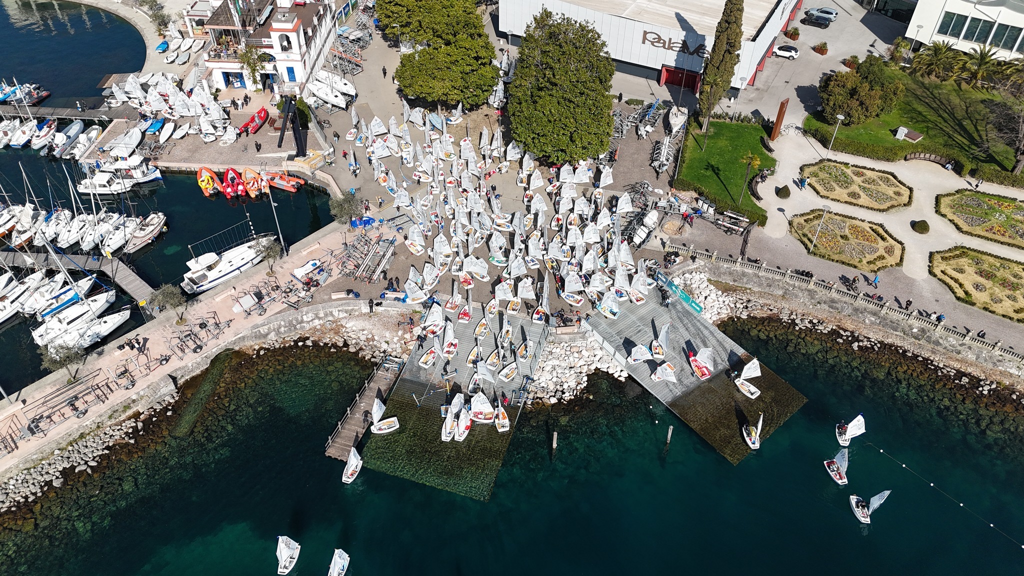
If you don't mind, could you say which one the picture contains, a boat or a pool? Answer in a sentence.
Visible in the photo is a boat.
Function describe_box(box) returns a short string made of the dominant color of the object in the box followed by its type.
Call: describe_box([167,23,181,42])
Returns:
white boat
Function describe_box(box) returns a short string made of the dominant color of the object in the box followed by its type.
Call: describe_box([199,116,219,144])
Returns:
white boat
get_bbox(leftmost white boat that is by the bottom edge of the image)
[277,536,303,576]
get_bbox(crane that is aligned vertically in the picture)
[278,80,317,161]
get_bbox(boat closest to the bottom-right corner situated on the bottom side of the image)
[847,491,885,526]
